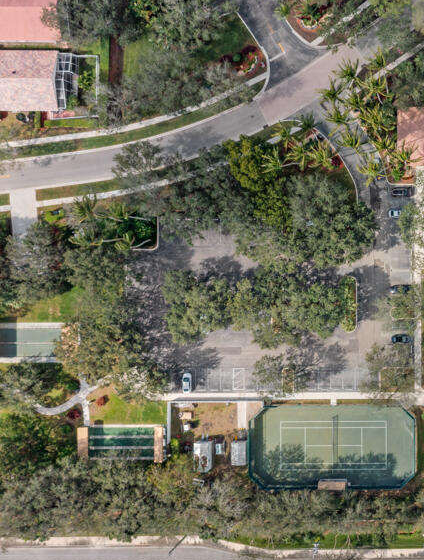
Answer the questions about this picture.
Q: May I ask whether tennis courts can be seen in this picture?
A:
Yes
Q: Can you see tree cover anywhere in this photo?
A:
Yes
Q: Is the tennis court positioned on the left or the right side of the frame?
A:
right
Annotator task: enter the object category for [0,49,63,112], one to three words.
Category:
house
